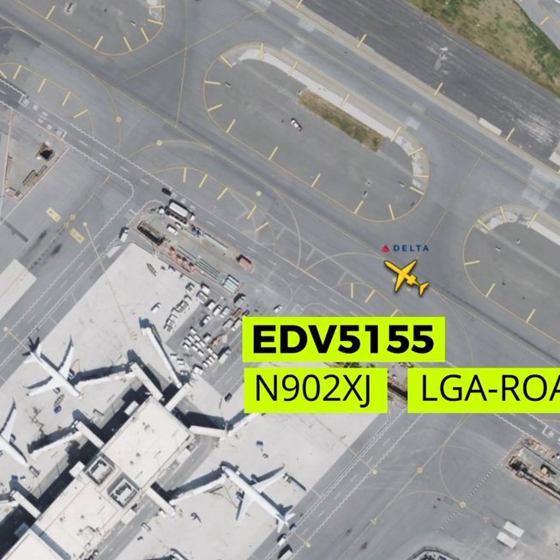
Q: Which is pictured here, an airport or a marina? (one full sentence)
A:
This looks like an airport.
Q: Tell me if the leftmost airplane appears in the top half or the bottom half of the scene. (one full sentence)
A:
Seen from above, the leftmost airplane lies in the bottom half of the view.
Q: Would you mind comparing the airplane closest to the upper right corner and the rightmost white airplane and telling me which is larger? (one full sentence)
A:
The rightmost white airplane takes up more space than the airplane closest to the upper right corner does.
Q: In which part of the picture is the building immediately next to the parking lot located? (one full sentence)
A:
You can find the building immediately next to the parking lot in the bottom left area of the picture.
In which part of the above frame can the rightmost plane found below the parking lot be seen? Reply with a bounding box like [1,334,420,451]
[222,466,296,533]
